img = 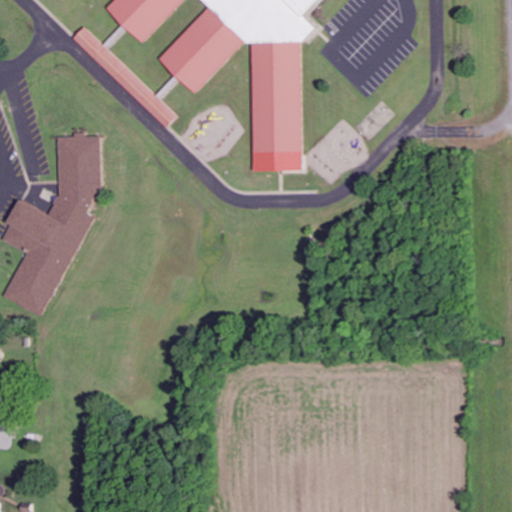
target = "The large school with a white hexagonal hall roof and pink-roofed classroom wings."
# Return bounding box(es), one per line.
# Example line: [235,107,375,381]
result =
[107,0,317,170]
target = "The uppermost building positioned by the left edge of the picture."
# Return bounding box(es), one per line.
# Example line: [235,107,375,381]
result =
[2,131,101,316]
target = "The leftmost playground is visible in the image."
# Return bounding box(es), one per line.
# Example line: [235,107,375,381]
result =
[180,104,245,162]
